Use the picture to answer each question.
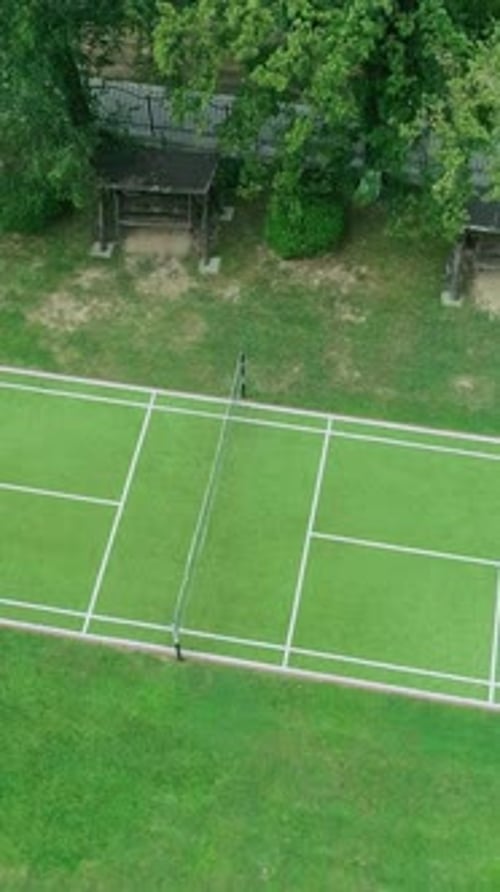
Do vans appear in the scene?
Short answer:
No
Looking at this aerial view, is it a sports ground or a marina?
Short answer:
sports ground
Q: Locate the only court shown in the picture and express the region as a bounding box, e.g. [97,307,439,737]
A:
[0,366,500,709]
